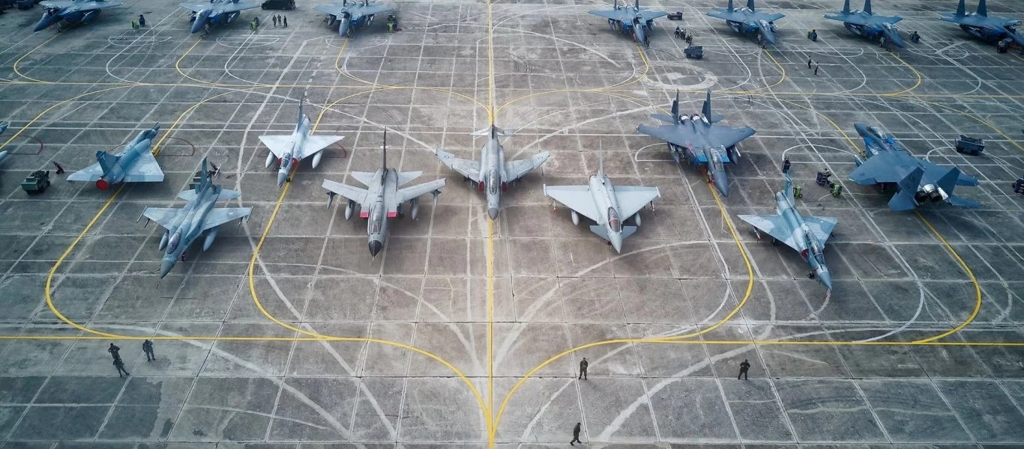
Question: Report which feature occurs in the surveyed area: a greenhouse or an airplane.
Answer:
airplane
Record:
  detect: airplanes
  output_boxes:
[259,98,345,191]
[180,0,265,35]
[33,0,127,33]
[706,0,784,45]
[63,125,164,198]
[136,157,254,283]
[312,0,395,39]
[637,87,755,198]
[544,143,659,254]
[848,125,986,215]
[825,0,904,48]
[738,173,835,296]
[321,129,445,261]
[435,125,548,220]
[587,0,666,45]
[933,0,1024,52]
